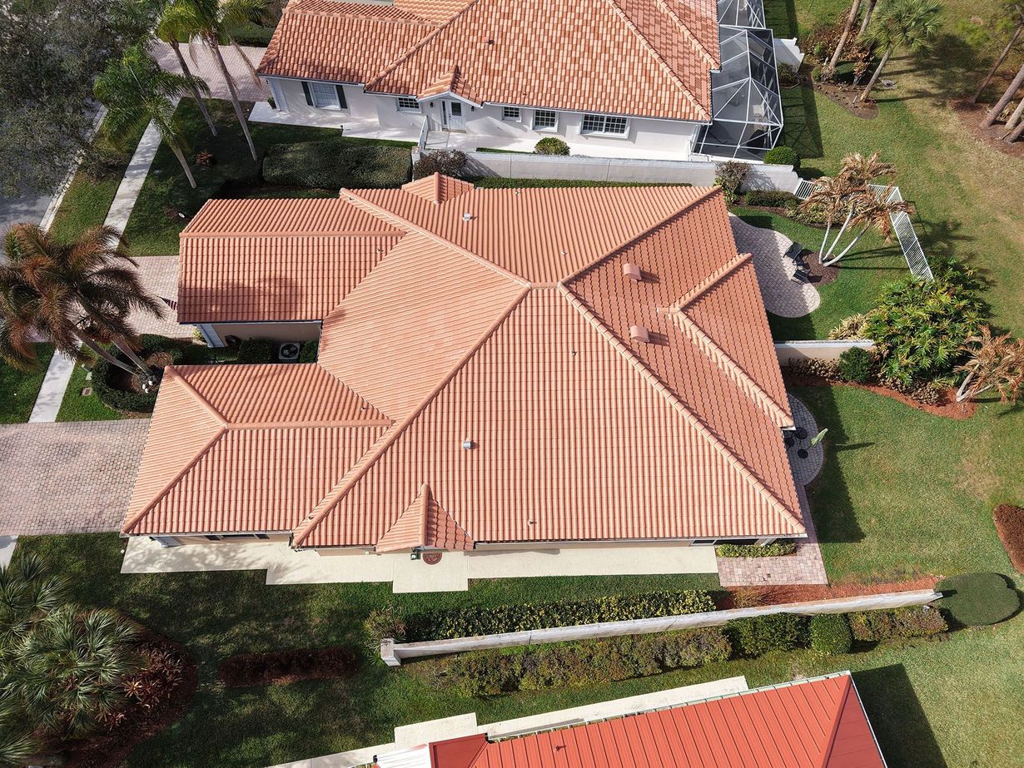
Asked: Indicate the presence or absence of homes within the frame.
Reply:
Yes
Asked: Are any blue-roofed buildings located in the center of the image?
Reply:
No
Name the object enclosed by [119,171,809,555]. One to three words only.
house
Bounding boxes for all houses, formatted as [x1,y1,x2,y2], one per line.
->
[254,0,723,153]
[330,671,887,768]
[119,171,809,555]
